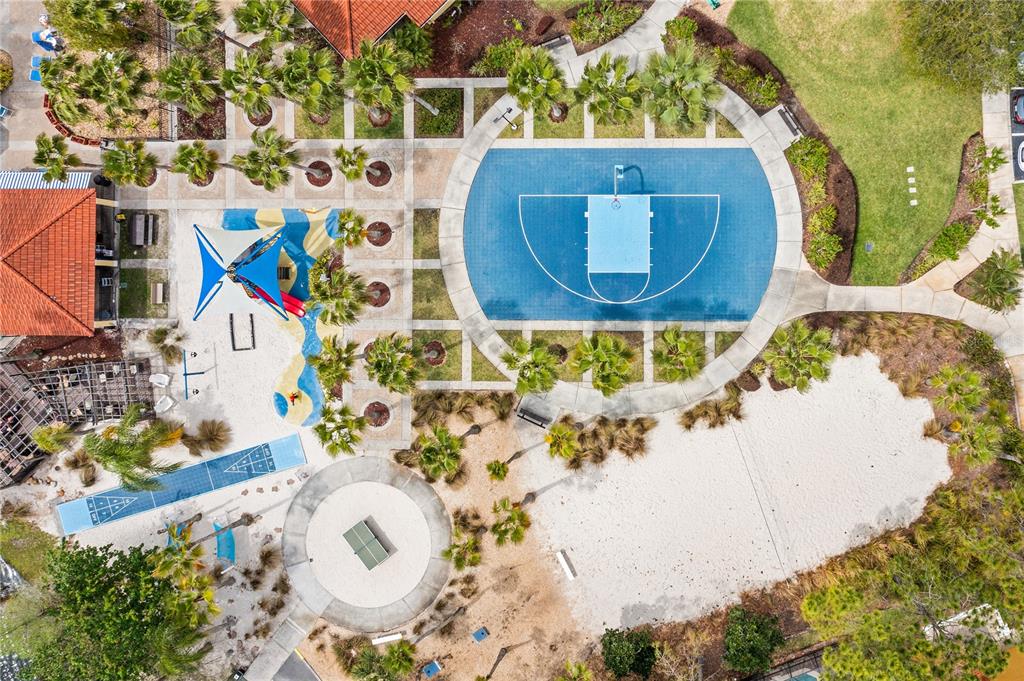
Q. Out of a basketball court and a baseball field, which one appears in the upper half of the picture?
basketball court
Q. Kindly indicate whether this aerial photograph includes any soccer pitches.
No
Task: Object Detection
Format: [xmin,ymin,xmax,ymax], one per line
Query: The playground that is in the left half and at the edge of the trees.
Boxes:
[222,208,344,426]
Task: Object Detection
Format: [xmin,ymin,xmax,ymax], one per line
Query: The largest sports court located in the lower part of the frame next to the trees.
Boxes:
[528,350,953,635]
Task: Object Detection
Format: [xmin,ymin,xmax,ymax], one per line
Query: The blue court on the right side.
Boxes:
[463,149,778,321]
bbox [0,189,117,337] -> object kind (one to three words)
building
